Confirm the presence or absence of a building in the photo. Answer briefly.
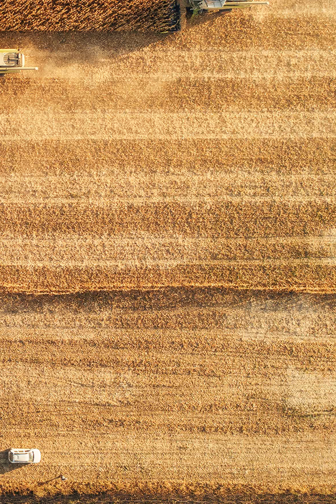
No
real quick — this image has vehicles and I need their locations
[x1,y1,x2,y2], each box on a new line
[159,0,269,33]
[8,448,40,464]
[0,46,38,75]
